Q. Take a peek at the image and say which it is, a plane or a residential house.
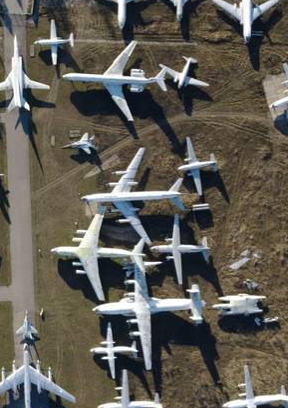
plane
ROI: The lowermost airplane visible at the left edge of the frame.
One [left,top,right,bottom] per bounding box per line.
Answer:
[0,344,76,408]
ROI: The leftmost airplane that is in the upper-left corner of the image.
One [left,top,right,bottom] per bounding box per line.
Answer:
[0,33,50,109]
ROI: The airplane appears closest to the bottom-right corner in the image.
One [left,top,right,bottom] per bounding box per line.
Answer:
[222,364,288,408]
